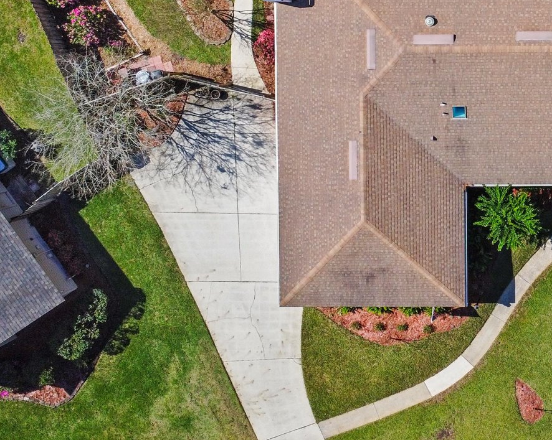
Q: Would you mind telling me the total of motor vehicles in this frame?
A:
0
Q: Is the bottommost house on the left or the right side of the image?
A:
left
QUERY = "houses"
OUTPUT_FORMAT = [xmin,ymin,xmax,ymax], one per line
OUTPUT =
[254,0,552,325]
[0,186,77,344]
